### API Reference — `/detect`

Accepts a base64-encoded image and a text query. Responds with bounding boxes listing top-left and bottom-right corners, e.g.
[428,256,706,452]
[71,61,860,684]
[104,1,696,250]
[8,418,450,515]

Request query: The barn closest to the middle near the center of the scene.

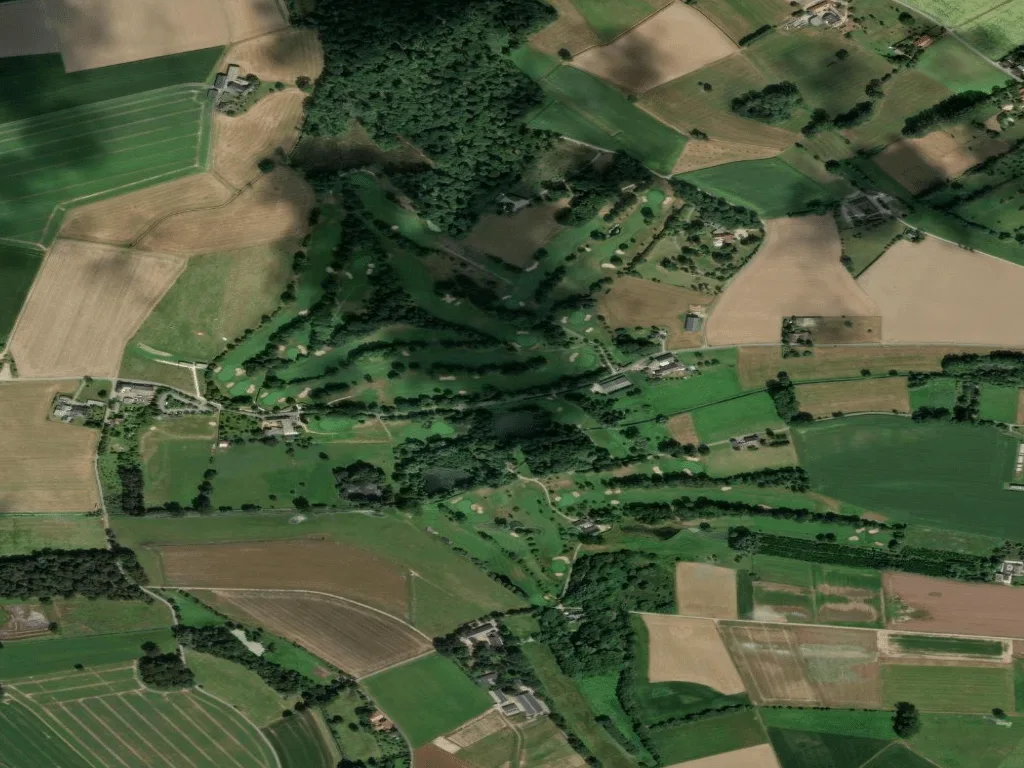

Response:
[599,375,631,395]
